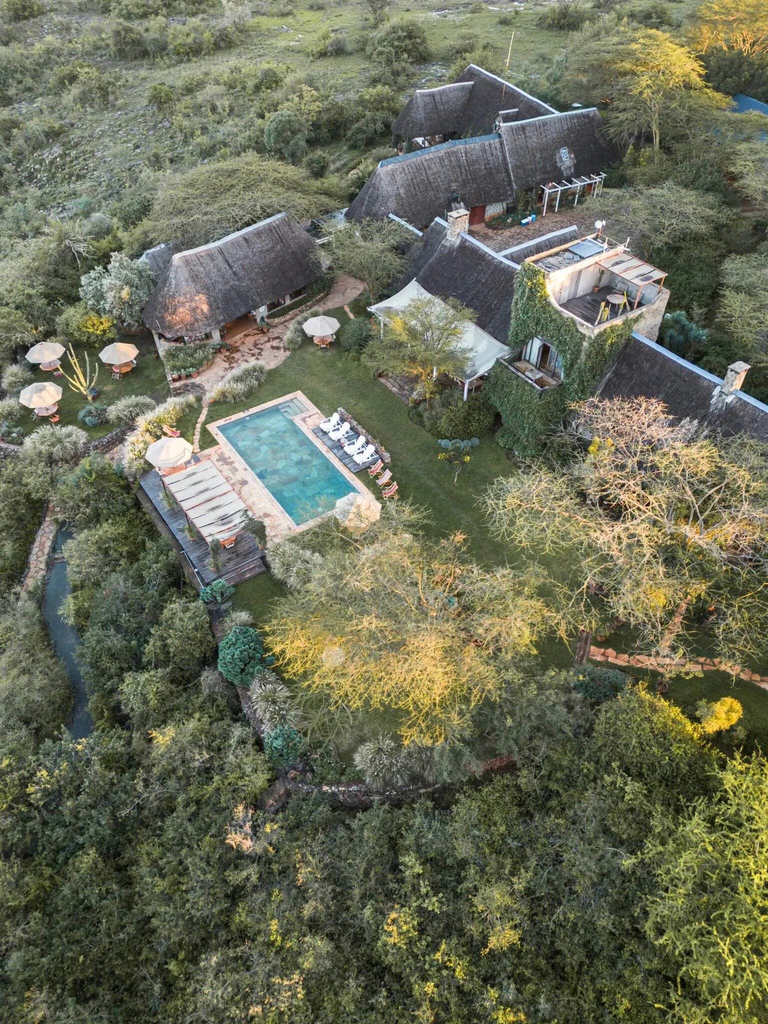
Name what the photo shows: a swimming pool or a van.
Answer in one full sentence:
Looking from above, you can make out a swimming pool.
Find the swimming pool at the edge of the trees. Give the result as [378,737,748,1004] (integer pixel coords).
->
[205,390,375,537]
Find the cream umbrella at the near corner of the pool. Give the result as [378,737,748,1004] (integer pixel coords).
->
[334,498,382,534]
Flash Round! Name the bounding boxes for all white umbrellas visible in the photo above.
[100,346,140,374]
[26,346,68,374]
[147,442,193,474]
[302,320,340,346]
[21,387,64,416]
